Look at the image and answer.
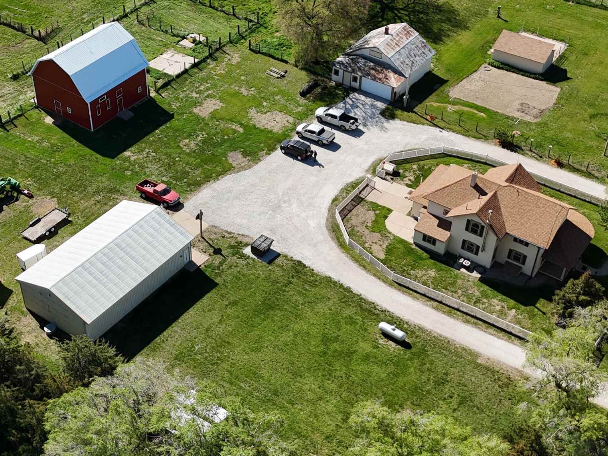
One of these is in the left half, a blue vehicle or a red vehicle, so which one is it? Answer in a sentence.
The feature located in the left half is a red vehicle.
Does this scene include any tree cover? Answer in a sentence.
Yes, some tree cover is visible.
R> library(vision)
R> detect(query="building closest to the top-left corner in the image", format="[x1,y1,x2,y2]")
[26,20,152,130]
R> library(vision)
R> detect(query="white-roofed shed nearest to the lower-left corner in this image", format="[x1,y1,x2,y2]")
[17,203,195,334]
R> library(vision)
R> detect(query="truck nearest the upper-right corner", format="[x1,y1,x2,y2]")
[312,108,360,132]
